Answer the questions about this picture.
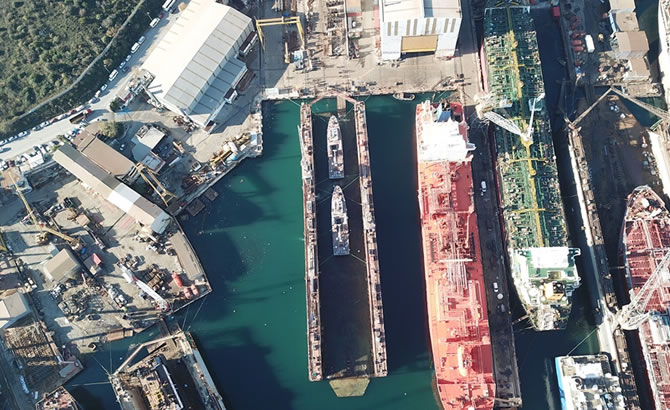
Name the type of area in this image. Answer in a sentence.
This image shows a port.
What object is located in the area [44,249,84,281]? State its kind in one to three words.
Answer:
shed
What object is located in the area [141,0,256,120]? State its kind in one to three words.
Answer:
building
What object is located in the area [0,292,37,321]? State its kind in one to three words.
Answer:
shed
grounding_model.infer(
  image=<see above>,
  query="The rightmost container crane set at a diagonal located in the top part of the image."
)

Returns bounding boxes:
[480,95,525,147]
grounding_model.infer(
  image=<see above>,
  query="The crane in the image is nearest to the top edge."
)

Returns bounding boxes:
[254,13,304,52]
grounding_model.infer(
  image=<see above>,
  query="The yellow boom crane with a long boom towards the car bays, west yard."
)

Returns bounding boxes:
[6,169,47,243]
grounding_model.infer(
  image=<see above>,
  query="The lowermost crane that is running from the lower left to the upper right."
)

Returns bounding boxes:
[607,248,670,330]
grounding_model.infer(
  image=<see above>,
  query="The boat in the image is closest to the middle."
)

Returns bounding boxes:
[330,184,349,256]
